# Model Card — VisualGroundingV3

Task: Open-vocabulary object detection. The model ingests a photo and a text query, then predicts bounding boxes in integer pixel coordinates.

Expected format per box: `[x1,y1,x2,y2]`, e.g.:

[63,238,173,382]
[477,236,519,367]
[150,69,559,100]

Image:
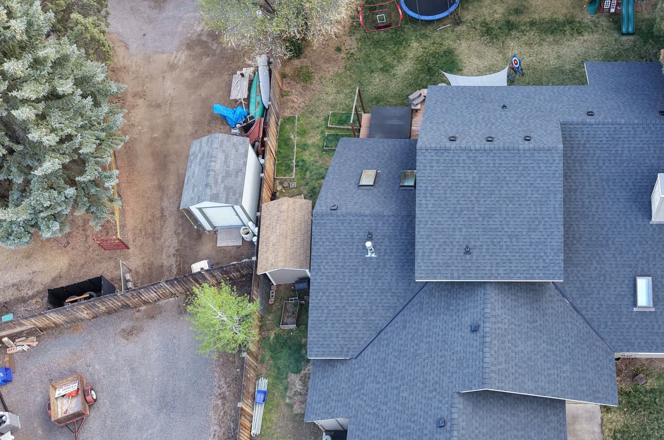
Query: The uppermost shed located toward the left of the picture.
[184,133,261,231]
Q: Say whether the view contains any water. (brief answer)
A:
No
